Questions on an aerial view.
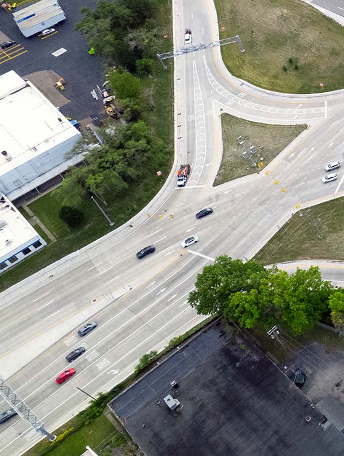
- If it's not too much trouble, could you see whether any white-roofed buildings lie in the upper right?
No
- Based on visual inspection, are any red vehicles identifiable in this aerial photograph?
Yes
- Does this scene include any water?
No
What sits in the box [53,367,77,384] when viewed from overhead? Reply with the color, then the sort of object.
red car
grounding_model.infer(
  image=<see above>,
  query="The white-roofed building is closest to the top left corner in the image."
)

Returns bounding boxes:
[0,69,100,209]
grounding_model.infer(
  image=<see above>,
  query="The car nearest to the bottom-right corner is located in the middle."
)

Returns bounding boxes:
[181,235,200,248]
